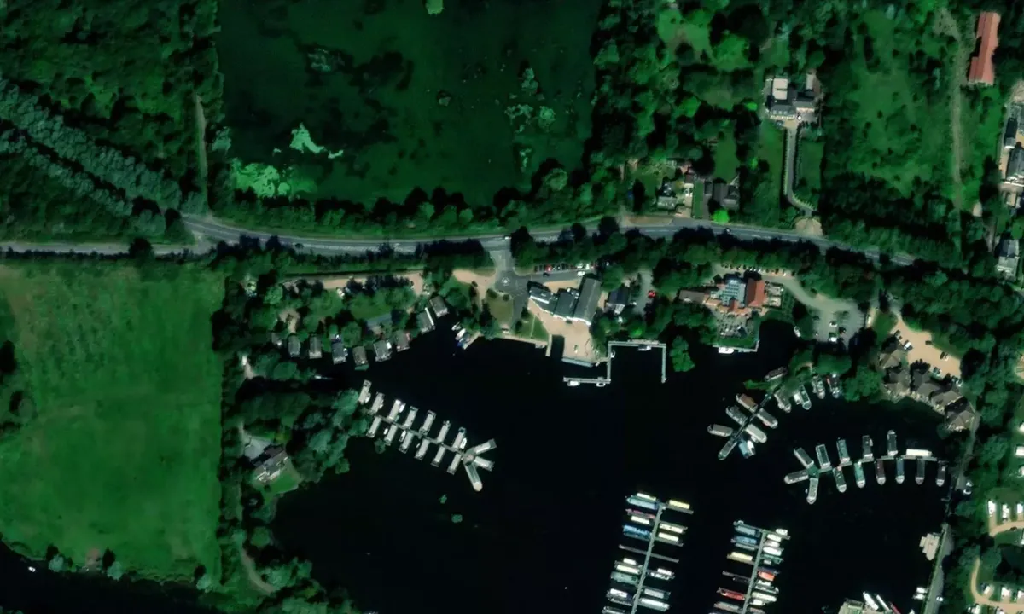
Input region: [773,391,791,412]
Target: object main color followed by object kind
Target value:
gray boat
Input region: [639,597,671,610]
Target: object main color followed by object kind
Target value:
white boat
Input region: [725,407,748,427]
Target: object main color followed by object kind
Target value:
gray boat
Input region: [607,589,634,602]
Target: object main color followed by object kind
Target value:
white boat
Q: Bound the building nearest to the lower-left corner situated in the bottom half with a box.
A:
[252,444,294,488]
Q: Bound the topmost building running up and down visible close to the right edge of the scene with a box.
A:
[968,11,999,86]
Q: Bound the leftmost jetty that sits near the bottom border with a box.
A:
[607,505,693,614]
